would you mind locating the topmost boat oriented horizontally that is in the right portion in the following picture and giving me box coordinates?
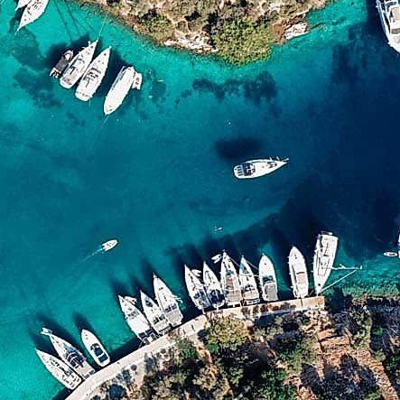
[233,159,288,178]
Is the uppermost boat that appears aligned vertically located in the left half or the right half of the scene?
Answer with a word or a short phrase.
right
